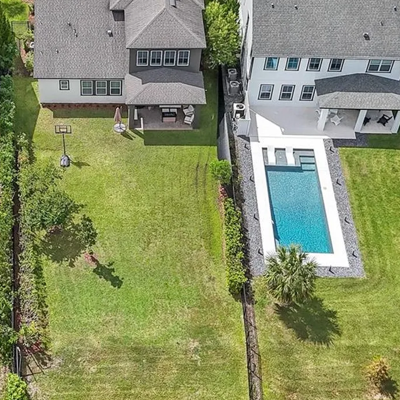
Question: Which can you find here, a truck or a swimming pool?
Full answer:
It is a swimming pool that can be seen here.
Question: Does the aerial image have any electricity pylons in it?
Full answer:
No, the scene contains no electricity pylon.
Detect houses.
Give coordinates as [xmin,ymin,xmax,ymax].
[31,0,208,129]
[237,0,400,133]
